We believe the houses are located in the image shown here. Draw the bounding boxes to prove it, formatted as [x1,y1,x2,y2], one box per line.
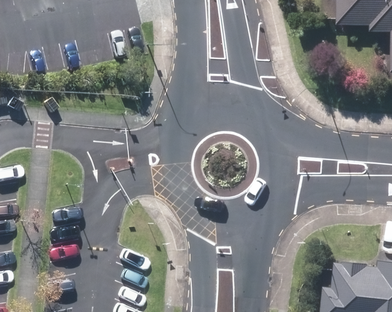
[336,0,392,72]
[320,261,392,312]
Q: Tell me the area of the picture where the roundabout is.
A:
center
